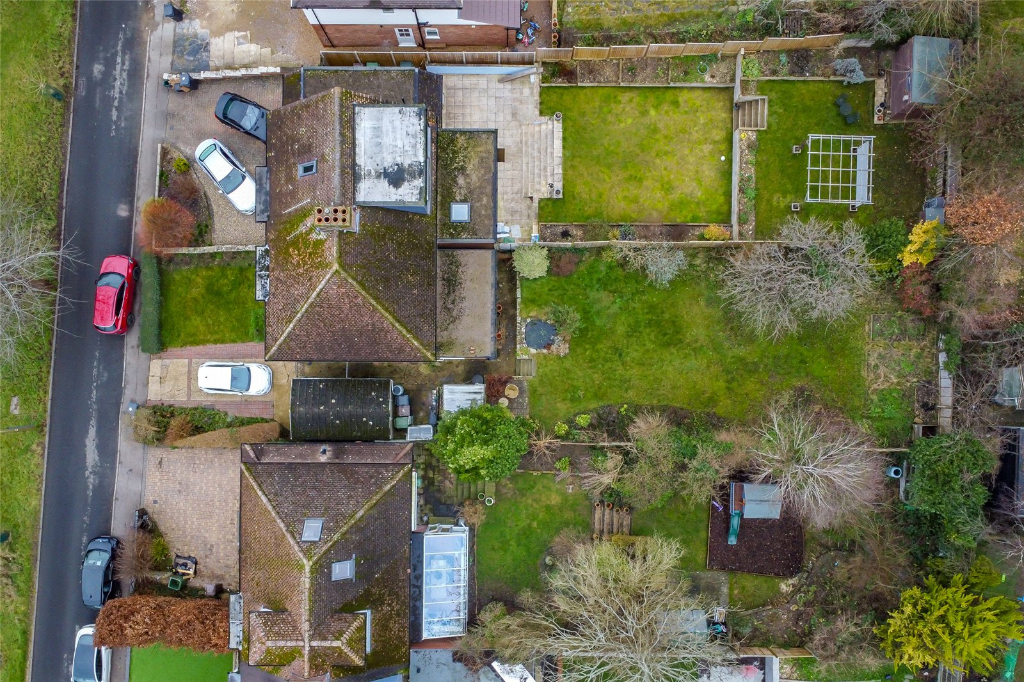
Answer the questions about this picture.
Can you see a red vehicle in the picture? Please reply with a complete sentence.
Yes, I can see a red vehicle in this picture.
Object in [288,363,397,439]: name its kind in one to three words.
building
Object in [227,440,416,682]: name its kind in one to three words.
house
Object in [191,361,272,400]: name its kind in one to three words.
car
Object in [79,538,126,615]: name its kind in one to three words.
car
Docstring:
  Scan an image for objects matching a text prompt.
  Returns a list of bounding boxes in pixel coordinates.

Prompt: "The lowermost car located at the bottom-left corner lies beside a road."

[72,626,117,682]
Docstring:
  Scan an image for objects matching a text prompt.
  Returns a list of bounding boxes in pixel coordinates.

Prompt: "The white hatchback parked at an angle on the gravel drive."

[186,131,255,211]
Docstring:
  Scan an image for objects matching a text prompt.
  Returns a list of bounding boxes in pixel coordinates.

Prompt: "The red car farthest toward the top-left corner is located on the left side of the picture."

[91,255,140,333]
